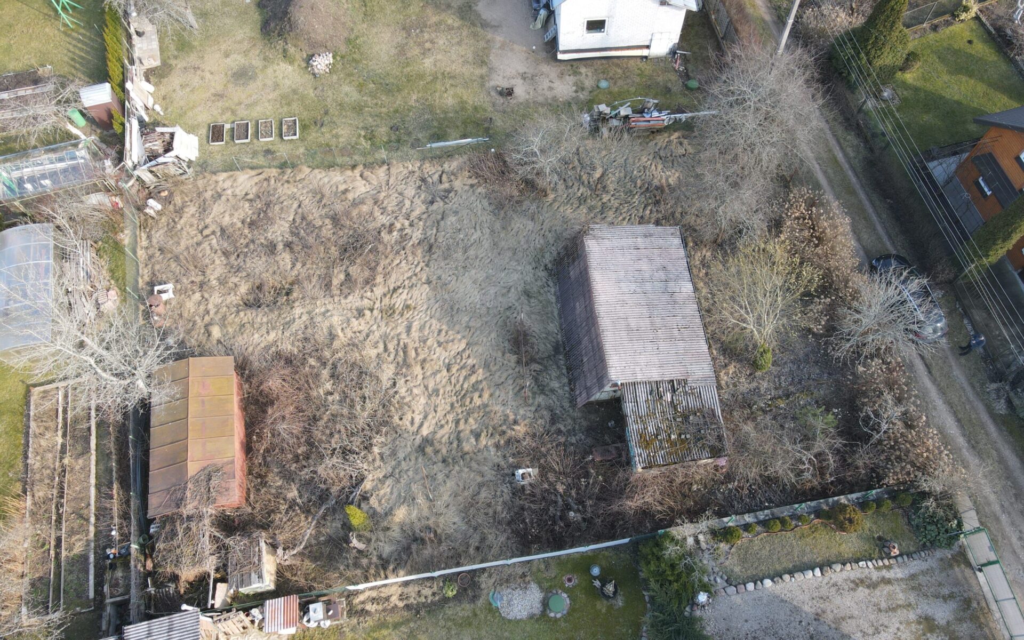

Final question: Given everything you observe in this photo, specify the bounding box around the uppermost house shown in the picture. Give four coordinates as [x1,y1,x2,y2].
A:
[549,0,691,60]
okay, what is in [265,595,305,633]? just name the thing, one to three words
shed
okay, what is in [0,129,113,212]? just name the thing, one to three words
greenhouse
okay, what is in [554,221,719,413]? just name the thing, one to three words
house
